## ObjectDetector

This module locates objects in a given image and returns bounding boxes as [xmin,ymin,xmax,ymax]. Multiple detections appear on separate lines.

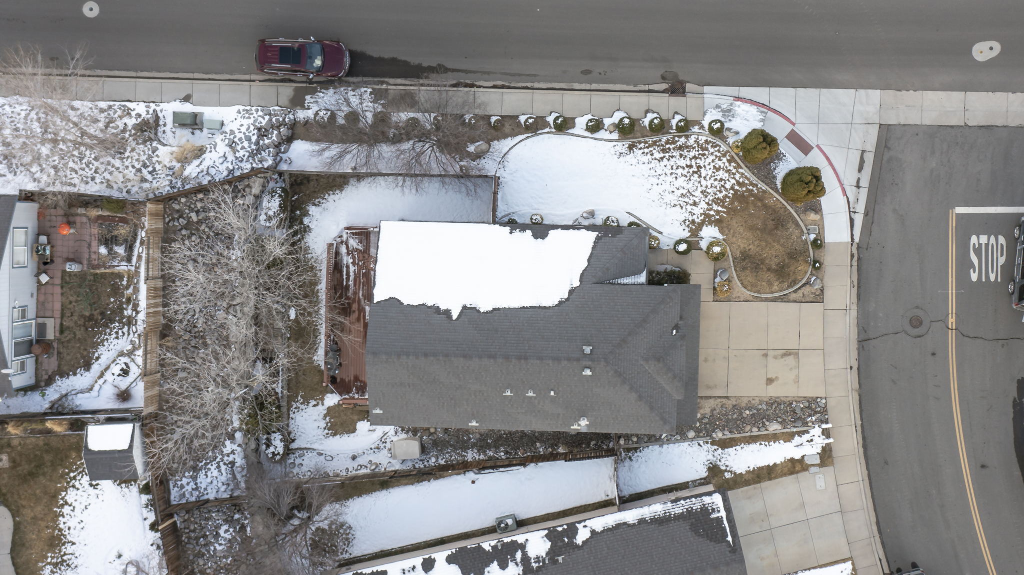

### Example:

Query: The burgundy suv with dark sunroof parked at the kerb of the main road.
[254,34,351,83]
